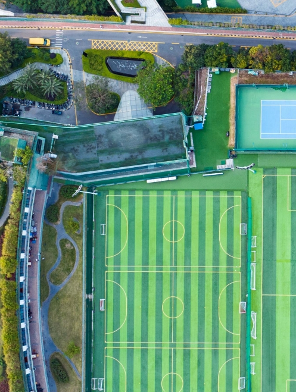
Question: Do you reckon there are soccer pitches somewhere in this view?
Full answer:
Yes, there is a soccer pitch in the image.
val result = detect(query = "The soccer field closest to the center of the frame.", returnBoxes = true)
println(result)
[105,195,241,267]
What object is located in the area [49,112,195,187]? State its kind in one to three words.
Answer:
building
